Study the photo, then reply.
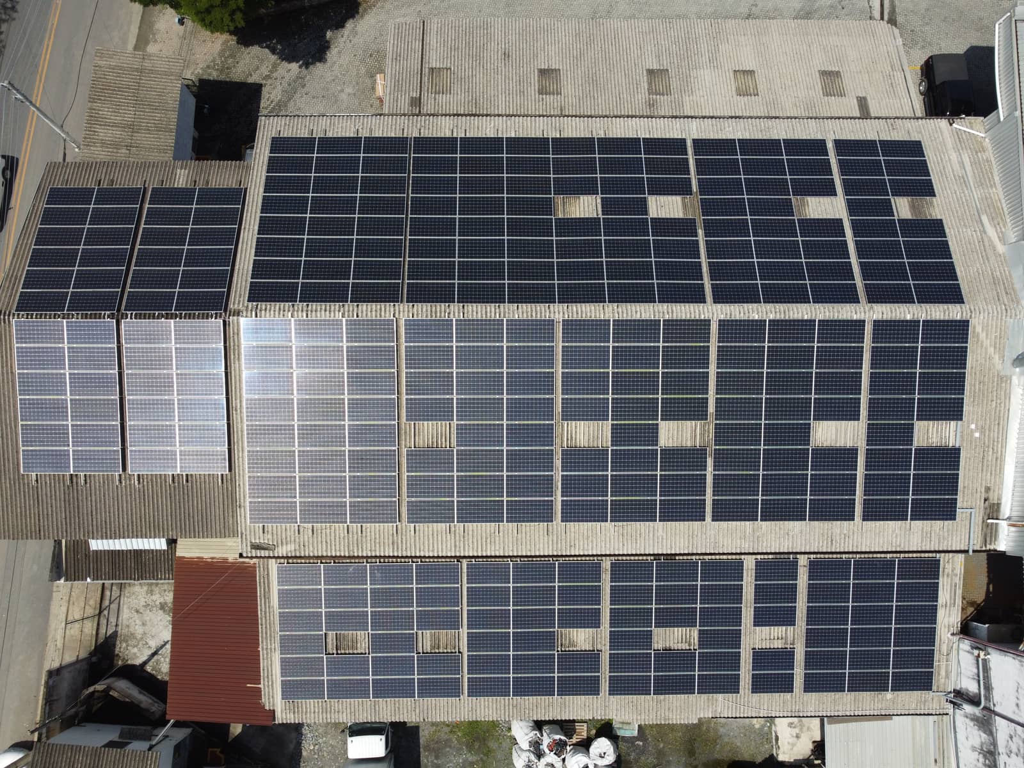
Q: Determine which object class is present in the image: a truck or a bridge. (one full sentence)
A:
There is a truck in the scene.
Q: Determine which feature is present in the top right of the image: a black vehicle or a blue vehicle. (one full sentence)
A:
The feature located in the top right of the image is a black vehicle.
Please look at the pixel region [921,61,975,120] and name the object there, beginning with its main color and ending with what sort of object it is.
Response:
black truck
